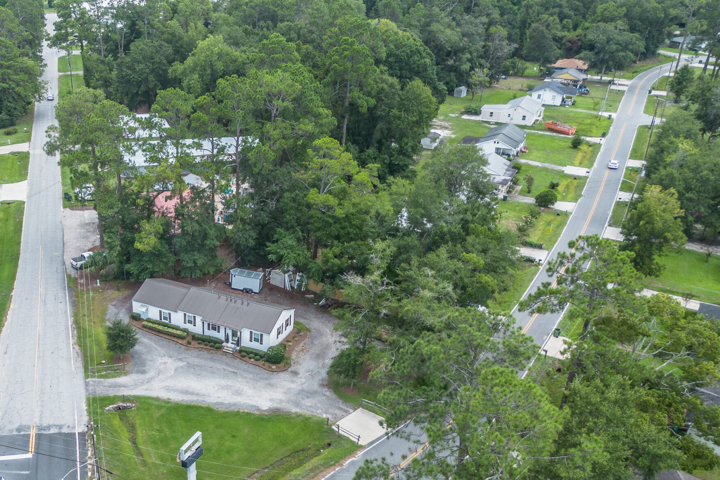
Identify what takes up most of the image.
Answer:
trees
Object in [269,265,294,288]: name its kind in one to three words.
shed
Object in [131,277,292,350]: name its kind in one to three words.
house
